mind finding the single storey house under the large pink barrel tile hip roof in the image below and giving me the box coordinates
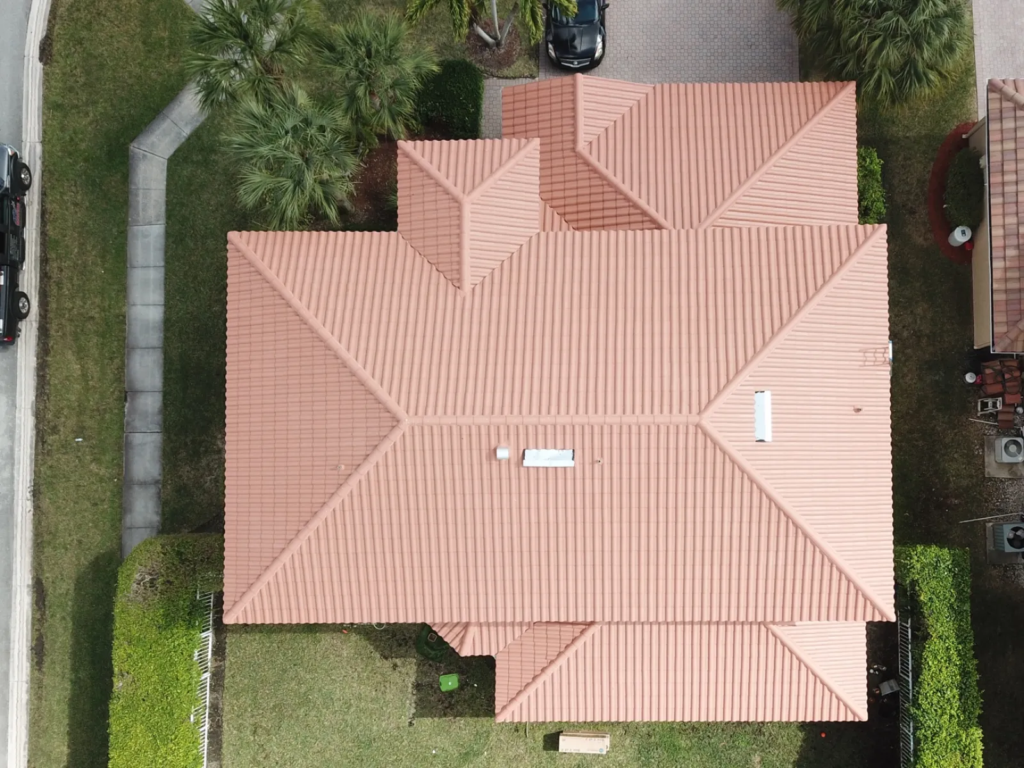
[217,72,902,726]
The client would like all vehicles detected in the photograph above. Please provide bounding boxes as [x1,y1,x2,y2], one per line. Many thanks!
[546,0,611,68]
[0,141,32,352]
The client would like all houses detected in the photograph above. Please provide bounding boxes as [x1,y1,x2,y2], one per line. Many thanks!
[967,75,1024,358]
[217,72,902,726]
